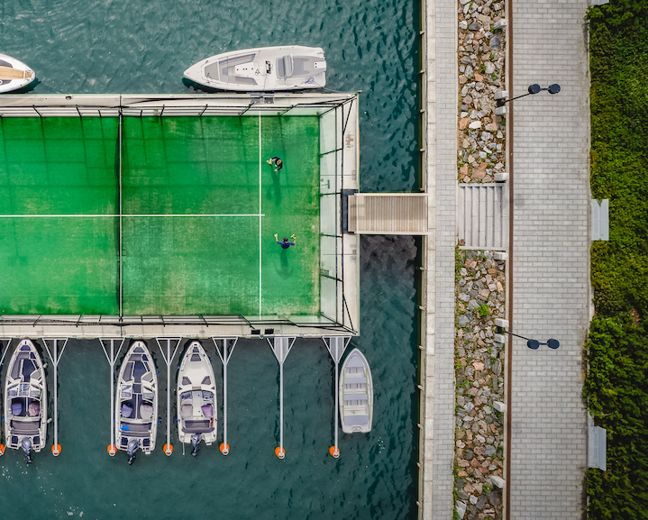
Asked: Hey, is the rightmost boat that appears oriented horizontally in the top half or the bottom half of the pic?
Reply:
top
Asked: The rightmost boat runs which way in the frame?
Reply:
from top to bottom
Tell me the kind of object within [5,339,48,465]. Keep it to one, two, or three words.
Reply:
boat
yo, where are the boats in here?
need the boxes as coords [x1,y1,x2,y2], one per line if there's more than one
[0,54,36,93]
[5,339,48,465]
[183,45,326,92]
[115,340,159,466]
[177,341,218,457]
[338,348,373,433]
